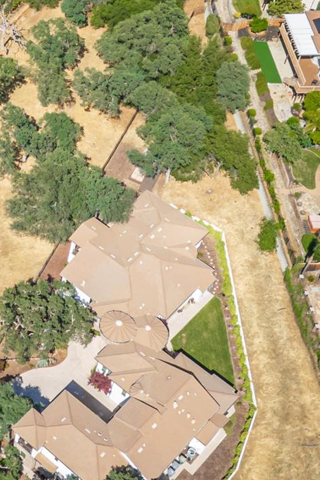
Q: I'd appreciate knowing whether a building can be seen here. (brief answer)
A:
Yes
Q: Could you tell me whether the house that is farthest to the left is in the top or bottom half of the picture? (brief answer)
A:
bottom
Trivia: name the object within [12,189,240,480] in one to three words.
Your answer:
house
